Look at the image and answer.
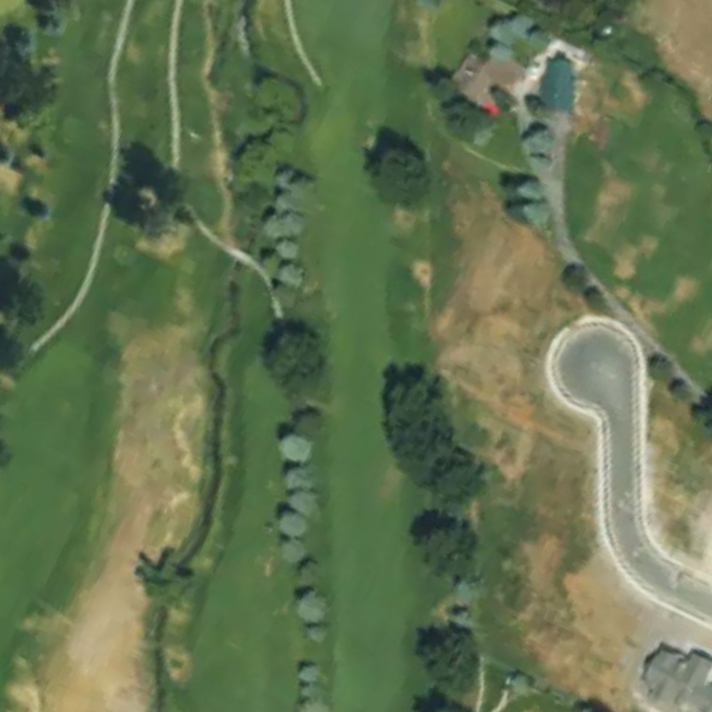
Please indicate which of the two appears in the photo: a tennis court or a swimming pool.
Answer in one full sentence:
Of the two, only a swimming pool appears.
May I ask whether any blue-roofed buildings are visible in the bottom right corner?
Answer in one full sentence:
No, no blue-roofed building is visible in the bottom right corner.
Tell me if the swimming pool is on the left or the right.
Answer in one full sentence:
The swimming pool sits on the right side.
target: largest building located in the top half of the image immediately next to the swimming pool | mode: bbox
[451,52,528,108]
